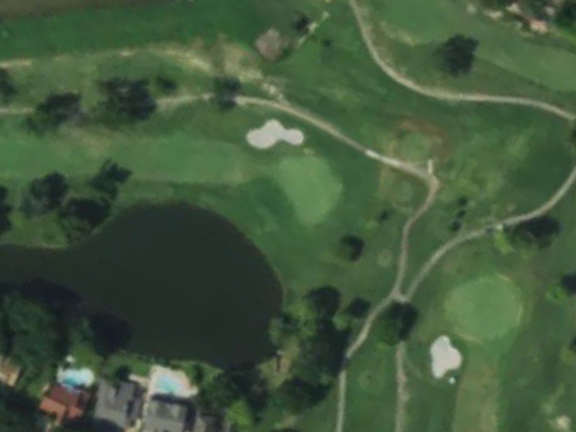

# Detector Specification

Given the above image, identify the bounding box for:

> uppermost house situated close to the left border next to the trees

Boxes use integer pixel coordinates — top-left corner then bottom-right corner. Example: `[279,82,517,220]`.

[0,359,21,387]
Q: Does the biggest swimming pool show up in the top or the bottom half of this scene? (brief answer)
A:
bottom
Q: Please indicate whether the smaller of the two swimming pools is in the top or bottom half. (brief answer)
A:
bottom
